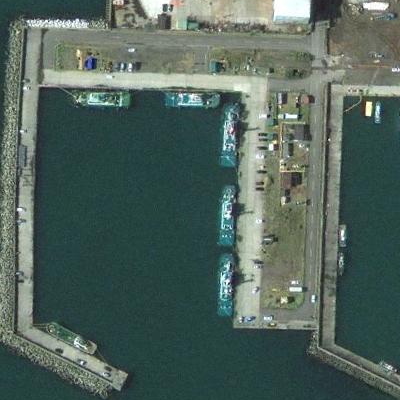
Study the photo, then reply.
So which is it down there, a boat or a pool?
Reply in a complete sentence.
Looking from above, you can make out a boat.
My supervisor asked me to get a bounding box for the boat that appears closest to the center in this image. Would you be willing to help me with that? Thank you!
[219,182,235,246]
